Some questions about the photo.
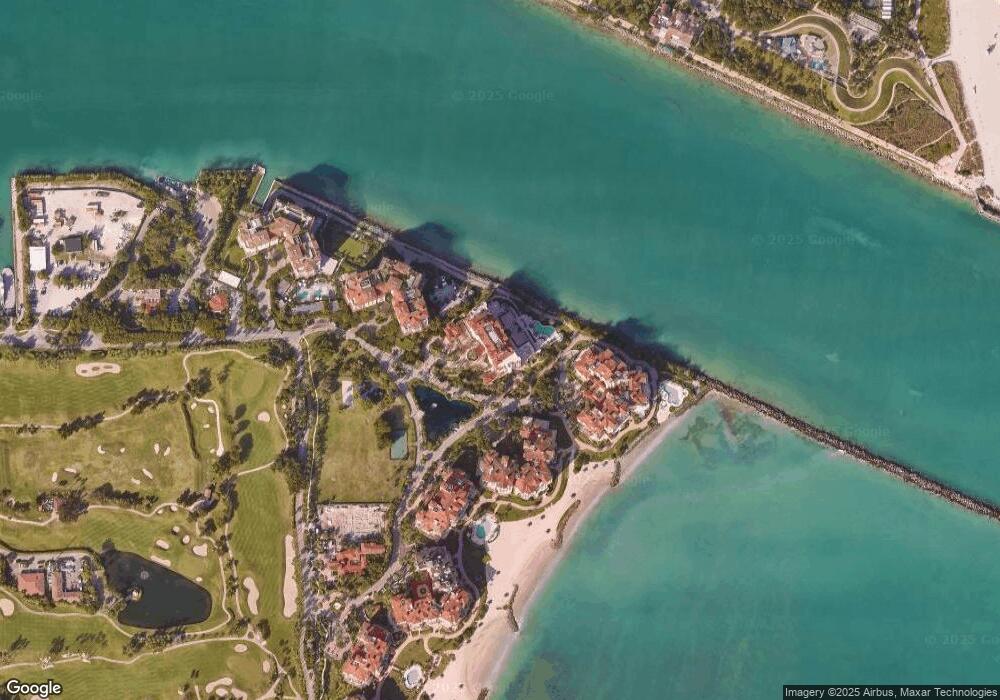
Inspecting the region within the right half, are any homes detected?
Yes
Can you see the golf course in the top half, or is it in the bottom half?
bottom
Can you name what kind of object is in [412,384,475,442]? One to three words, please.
pond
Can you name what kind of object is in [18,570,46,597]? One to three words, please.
building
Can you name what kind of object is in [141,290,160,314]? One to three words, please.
house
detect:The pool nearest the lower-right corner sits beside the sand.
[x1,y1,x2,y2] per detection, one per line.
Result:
[657,380,688,425]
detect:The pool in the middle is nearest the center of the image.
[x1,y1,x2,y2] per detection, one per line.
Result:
[530,317,561,344]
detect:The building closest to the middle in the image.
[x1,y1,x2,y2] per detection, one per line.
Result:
[441,302,521,387]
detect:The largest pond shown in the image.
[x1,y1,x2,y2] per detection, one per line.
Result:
[101,546,211,628]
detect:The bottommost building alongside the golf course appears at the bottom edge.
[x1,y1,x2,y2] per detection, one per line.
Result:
[340,620,393,695]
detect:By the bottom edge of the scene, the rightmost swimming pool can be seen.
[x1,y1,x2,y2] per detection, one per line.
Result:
[405,665,423,688]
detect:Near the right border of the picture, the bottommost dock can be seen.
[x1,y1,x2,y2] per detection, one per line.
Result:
[693,372,1000,519]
